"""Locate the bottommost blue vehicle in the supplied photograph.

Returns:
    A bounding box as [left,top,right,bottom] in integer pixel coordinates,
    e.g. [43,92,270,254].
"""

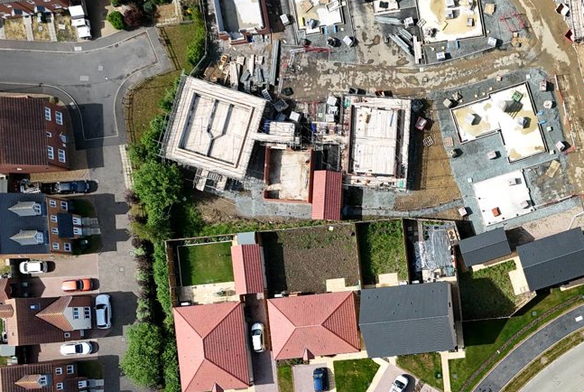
[313,367,328,392]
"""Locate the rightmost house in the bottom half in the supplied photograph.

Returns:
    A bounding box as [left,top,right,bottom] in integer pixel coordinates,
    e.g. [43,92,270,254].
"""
[516,228,584,292]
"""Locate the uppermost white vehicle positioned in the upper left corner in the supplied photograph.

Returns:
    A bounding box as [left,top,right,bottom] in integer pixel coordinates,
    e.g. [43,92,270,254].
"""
[66,0,89,40]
